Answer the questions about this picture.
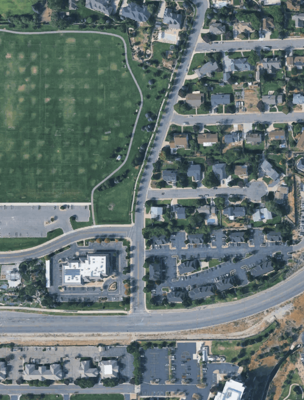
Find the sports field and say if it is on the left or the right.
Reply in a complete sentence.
The sports field appears in the left half of the scene.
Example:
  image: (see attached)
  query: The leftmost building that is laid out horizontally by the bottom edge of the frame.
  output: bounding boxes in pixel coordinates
[22,364,63,381]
